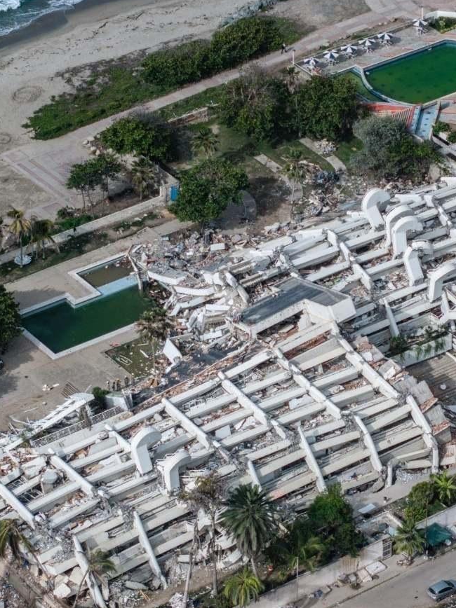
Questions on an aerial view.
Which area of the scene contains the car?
bottom right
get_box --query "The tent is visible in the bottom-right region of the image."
[424,525,455,558]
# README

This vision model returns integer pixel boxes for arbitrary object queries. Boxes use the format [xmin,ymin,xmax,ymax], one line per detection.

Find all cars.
[424,572,456,597]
